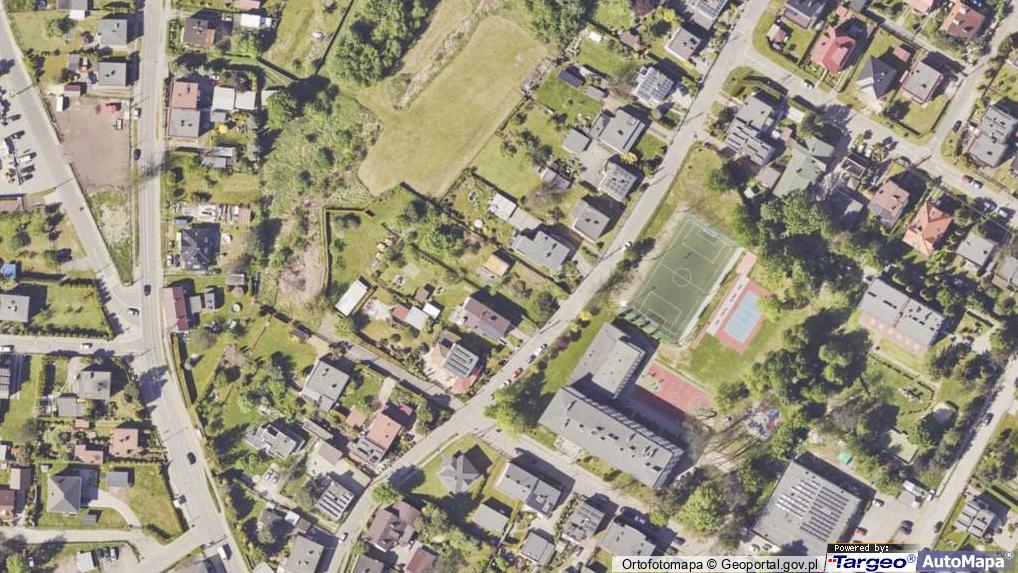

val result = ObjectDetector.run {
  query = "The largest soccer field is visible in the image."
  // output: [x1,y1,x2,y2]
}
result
[626,211,745,342]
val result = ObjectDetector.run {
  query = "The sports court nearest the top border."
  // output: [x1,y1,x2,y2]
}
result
[717,280,772,352]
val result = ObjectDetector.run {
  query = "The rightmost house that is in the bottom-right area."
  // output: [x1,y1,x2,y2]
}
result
[954,501,995,537]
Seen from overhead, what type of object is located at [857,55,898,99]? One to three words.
house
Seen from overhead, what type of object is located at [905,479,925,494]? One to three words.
vehicle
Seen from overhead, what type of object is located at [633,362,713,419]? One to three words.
sports court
